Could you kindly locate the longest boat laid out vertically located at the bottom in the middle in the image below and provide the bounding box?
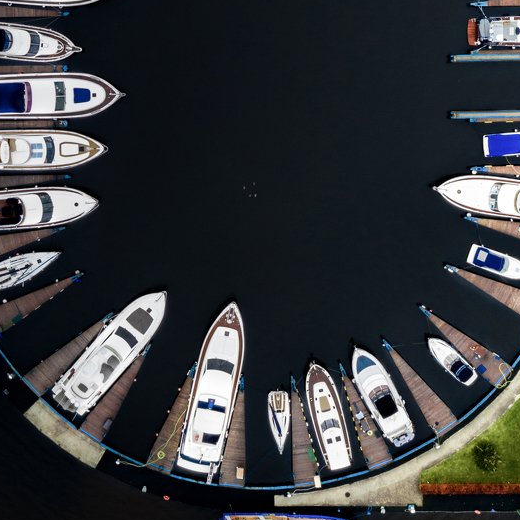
[178,299,243,484]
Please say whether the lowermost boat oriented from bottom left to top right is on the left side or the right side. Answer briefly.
left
